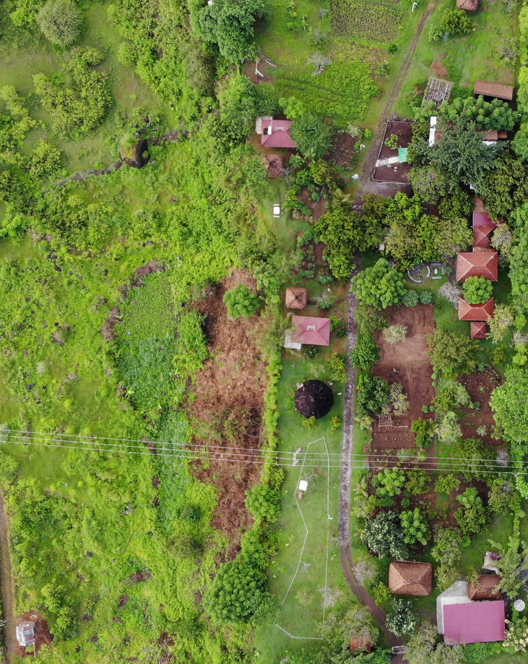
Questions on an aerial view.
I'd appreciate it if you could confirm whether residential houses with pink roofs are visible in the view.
Yes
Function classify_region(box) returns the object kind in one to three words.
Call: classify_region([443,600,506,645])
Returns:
house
